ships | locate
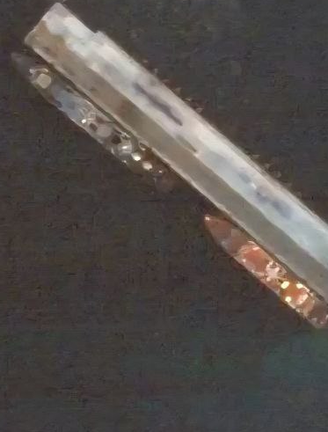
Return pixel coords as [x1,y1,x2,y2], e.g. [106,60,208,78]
[206,216,328,335]
[11,51,176,196]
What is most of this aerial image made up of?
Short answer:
water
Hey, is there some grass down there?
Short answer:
No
